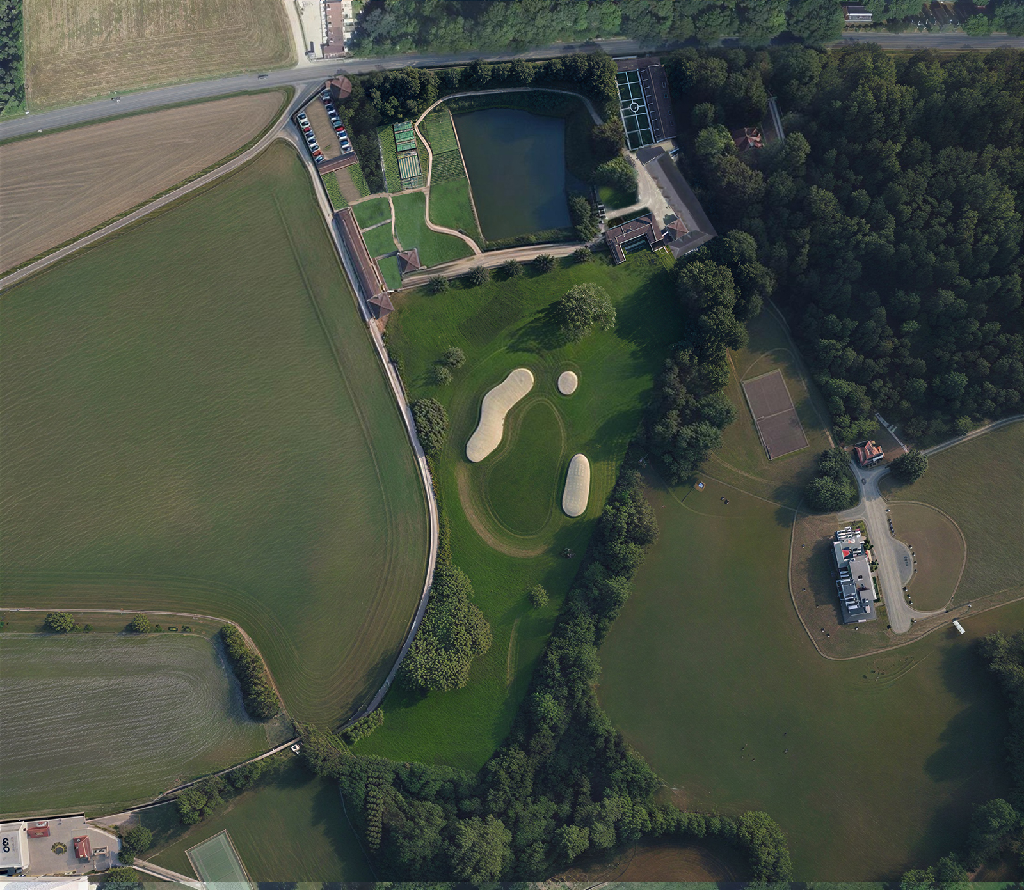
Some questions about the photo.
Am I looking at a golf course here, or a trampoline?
golf course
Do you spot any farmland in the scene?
Yes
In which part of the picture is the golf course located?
center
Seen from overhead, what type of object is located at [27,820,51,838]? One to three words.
building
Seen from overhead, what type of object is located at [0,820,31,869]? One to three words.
building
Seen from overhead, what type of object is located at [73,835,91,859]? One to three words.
house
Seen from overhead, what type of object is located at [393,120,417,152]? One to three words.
greenhouse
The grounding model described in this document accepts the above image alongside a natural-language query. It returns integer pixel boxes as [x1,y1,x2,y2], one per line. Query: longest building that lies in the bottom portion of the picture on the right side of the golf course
[831,536,878,624]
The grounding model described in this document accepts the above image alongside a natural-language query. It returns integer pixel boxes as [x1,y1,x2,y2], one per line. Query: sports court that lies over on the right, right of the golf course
[741,369,809,459]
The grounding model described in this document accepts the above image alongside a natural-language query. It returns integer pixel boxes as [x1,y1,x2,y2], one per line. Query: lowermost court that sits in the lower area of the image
[186,830,256,890]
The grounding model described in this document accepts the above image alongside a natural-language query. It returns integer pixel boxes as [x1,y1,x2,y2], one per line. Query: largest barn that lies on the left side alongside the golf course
[334,207,381,301]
